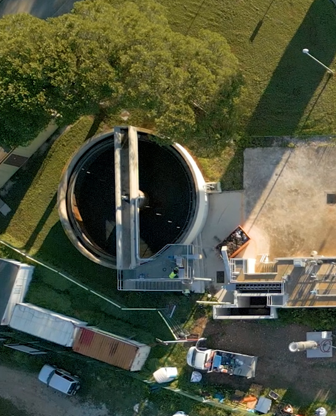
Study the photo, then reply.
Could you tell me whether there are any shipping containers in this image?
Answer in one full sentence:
Yes, there is a shipping container in the image.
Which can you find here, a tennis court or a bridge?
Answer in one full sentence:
Looking from above, you can make out a bridge.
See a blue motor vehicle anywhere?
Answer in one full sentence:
Yes, there is a blue motor vehicle in the image.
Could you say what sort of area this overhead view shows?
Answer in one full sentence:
The area seen from above is an industrial area.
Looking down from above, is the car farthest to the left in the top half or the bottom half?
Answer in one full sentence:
The car farthest to the left sits in the bottom half of the picture.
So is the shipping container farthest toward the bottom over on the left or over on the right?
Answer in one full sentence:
The shipping container farthest toward the bottom is on the left side of the image.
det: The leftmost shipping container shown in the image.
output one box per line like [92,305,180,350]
[0,255,38,329]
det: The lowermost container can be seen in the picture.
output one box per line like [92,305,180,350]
[71,325,157,372]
